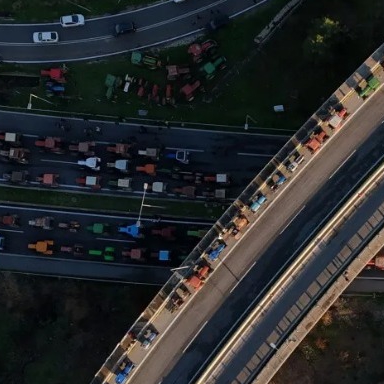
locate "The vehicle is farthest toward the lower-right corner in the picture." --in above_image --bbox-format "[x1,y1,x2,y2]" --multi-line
[366,256,384,271]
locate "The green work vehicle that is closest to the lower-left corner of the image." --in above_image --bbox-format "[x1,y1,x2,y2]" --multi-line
[87,247,117,261]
